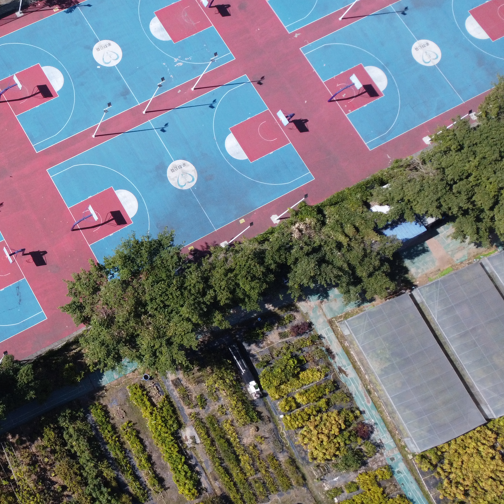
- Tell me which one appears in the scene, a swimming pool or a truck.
truck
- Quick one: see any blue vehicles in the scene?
No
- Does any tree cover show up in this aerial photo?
Yes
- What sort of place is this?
sports ground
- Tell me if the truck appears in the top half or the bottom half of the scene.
bottom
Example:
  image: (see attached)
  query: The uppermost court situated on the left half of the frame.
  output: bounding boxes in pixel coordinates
[0,0,235,153]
